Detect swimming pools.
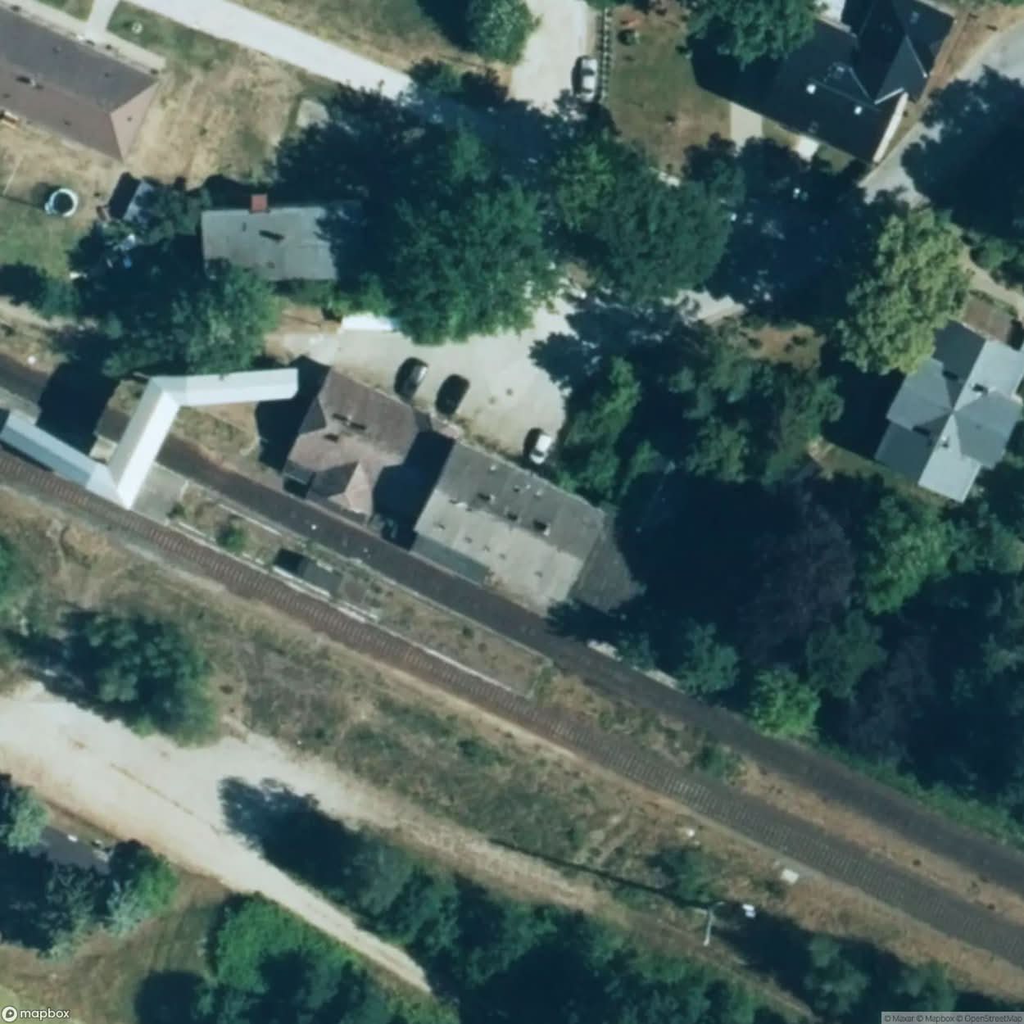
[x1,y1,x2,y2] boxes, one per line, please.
[46,186,78,218]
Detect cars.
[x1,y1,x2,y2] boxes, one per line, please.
[529,428,555,466]
[442,373,470,415]
[578,57,597,100]
[403,358,430,400]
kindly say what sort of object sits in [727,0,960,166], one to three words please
house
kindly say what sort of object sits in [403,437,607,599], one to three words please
shed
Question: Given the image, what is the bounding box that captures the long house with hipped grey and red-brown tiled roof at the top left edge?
[0,4,159,160]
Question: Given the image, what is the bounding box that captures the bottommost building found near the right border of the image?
[873,324,1024,500]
